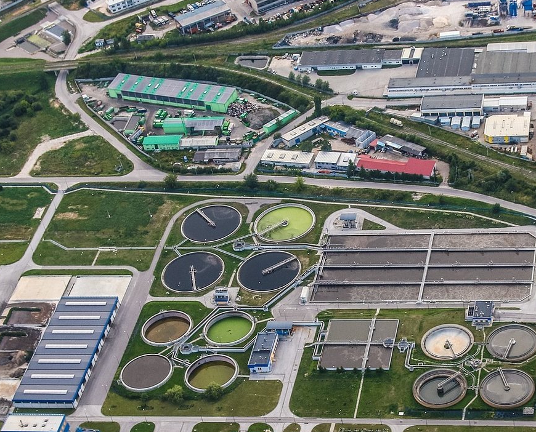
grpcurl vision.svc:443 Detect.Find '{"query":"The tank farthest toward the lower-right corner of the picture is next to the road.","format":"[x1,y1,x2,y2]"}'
[479,366,536,411]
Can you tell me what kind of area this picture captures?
industrial area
